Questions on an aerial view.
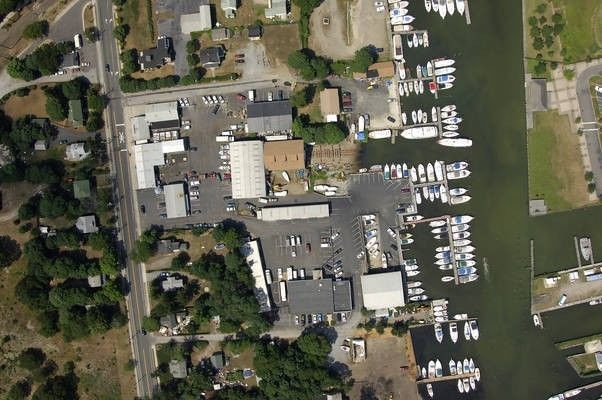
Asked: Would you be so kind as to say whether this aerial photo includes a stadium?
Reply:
No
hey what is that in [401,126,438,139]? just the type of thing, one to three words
boat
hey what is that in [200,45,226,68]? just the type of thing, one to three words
house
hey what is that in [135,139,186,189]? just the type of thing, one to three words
building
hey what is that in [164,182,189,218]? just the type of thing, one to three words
shed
